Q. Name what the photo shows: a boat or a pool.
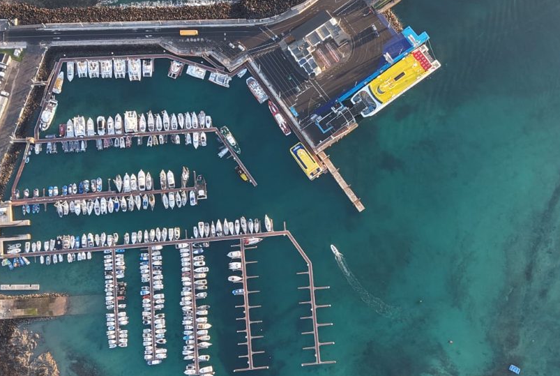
boat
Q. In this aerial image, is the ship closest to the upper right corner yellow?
Yes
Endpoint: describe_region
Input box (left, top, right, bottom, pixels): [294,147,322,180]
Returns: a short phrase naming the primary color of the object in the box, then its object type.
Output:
yellow ship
